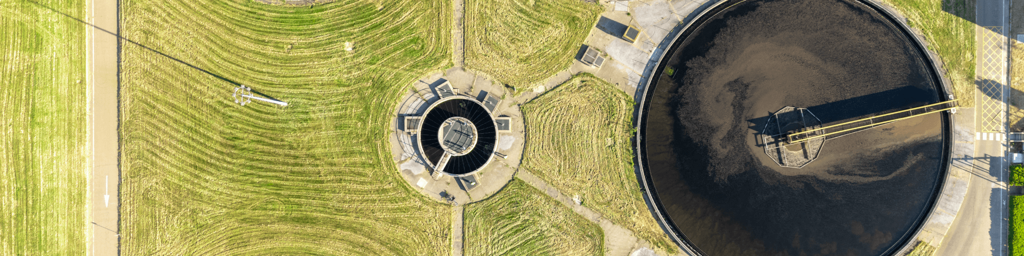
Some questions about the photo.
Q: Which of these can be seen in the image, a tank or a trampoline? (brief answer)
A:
tank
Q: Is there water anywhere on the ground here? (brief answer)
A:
Yes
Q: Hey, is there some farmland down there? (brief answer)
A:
No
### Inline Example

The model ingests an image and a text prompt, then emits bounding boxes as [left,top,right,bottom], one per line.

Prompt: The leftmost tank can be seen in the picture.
[417,96,498,178]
